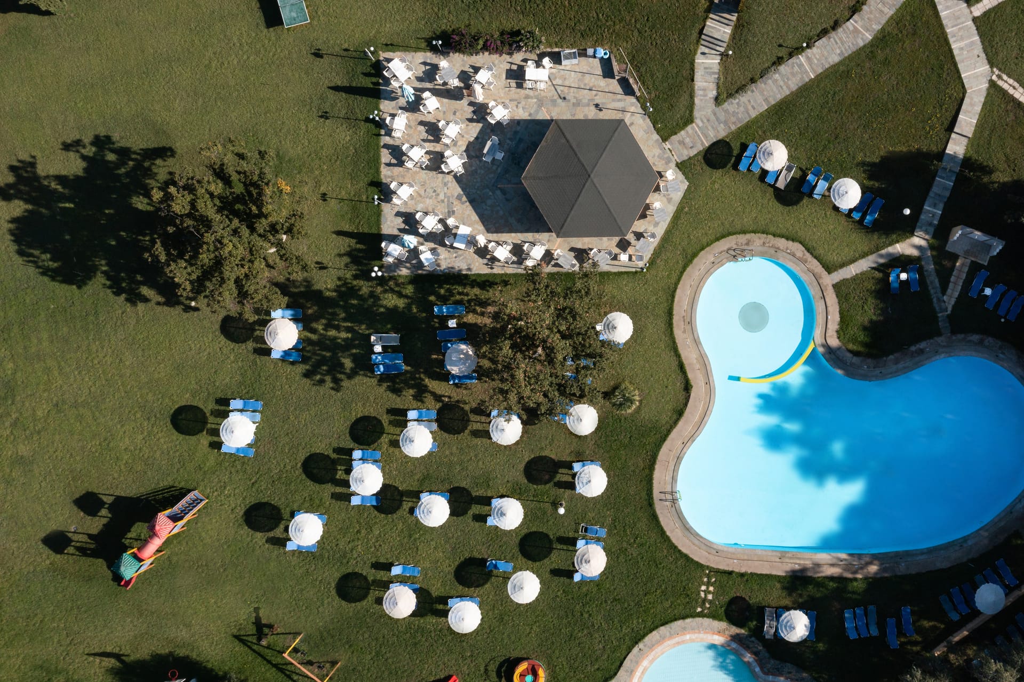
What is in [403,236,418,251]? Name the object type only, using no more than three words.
umbrella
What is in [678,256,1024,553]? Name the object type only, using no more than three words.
swimming pool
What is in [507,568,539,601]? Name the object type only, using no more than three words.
umbrella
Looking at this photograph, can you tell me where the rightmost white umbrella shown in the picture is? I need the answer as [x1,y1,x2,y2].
[828,178,860,210]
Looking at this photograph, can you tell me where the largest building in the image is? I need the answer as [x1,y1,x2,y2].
[521,117,660,239]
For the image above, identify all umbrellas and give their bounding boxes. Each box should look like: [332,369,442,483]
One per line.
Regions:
[489,413,522,447]
[603,313,635,345]
[385,585,418,618]
[756,137,788,168]
[575,545,608,578]
[222,413,256,446]
[493,496,526,529]
[417,491,450,524]
[475,237,488,251]
[265,317,299,350]
[564,402,596,434]
[399,423,432,456]
[778,611,810,643]
[289,512,324,547]
[403,236,418,251]
[971,584,1006,616]
[444,340,478,374]
[472,85,485,105]
[575,465,608,497]
[507,568,539,601]
[400,85,414,105]
[347,461,380,495]
[449,597,483,631]
[828,178,860,210]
